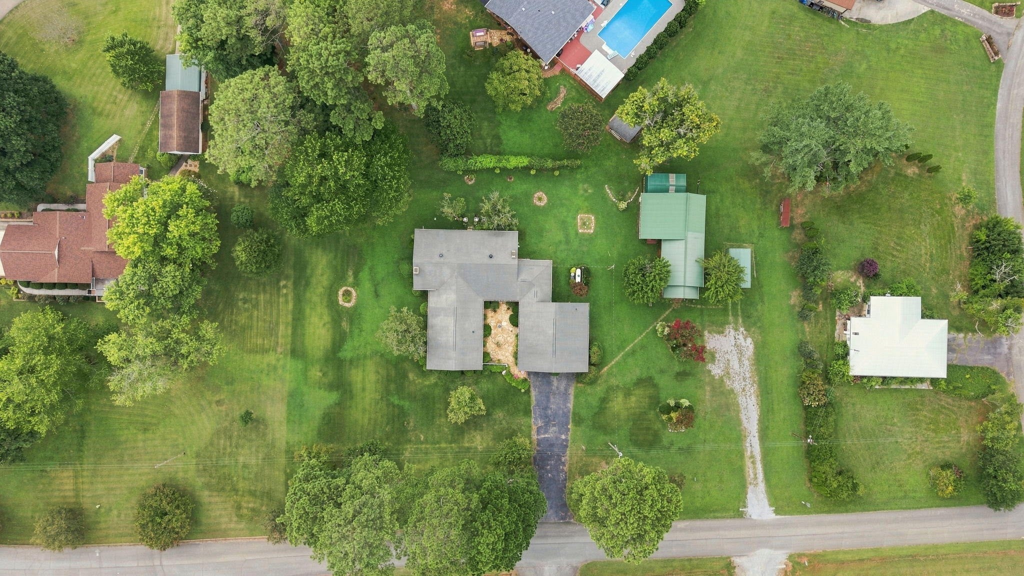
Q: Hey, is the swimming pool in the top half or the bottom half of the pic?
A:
top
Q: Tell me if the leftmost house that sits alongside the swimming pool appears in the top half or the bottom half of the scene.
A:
top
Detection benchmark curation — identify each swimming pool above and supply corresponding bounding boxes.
[598,0,676,59]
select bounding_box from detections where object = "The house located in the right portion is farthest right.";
[839,296,948,378]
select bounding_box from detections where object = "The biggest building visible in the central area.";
[412,229,590,373]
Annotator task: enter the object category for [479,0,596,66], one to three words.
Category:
house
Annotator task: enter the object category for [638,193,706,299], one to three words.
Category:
barn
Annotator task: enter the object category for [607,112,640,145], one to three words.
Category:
shed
